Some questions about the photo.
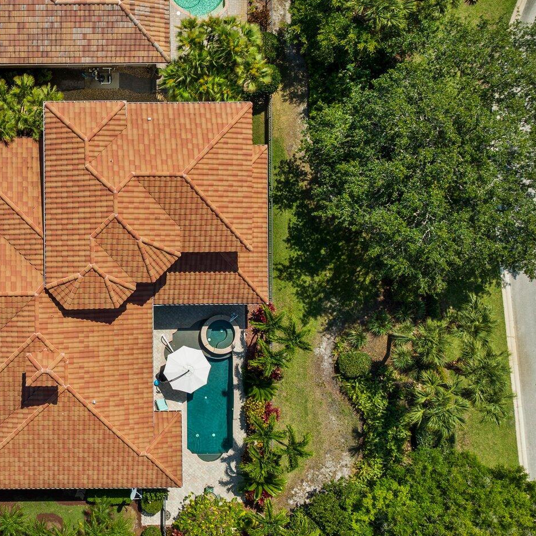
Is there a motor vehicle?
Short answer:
No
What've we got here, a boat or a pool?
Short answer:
pool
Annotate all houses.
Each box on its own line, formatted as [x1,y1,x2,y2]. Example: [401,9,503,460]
[0,0,171,73]
[0,99,270,491]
